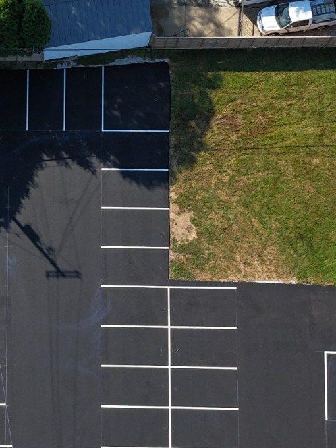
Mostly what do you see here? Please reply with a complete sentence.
What you mostly see from above here is paved ground.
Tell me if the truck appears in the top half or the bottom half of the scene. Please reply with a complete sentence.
The truck sits in the top half of the picture.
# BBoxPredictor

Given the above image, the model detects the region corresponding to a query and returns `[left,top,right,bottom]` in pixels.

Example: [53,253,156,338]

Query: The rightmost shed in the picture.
[36,0,153,60]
